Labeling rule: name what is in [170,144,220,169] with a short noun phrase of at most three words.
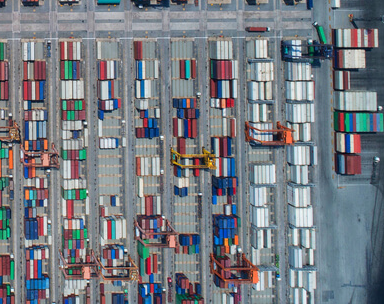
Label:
container crane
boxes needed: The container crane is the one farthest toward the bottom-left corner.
[59,248,102,281]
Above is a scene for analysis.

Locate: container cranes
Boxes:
[210,252,261,283]
[0,116,22,141]
[279,38,334,61]
[170,144,220,169]
[97,251,144,282]
[134,218,180,248]
[244,120,295,146]
[59,248,102,281]
[20,142,61,168]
